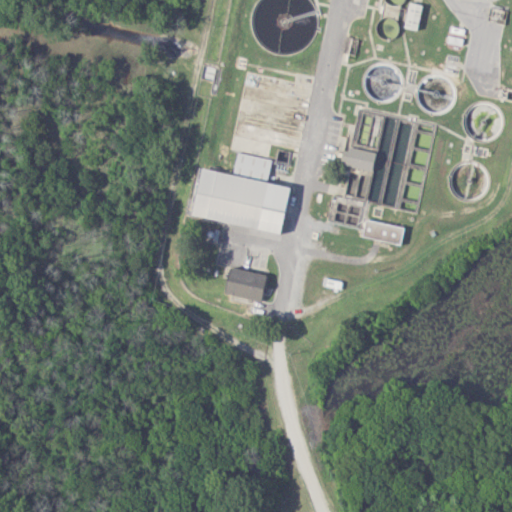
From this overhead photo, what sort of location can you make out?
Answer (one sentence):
This image shows an industrial area.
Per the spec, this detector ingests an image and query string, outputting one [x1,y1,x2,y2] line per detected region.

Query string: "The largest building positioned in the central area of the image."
[191,168,292,234]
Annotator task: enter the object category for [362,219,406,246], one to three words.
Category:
building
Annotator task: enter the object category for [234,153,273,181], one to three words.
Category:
building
